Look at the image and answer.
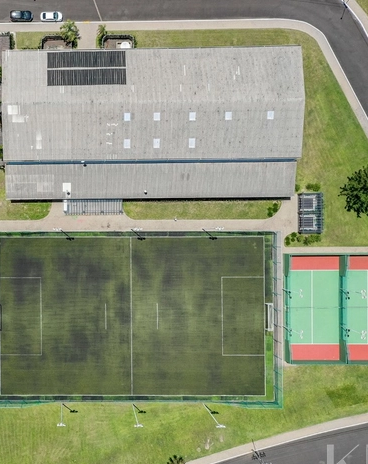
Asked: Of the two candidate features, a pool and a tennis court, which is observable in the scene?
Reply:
tennis court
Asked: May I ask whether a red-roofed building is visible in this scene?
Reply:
No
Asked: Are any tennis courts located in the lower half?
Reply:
Yes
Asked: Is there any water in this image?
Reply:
No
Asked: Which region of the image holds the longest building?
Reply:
top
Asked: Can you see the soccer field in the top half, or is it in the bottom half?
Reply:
bottom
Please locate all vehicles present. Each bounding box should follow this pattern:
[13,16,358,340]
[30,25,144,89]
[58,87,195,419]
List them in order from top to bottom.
[9,8,32,20]
[40,8,63,20]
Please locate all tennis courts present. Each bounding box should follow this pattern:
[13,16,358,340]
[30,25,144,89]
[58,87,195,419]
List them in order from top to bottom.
[284,254,348,363]
[340,254,368,363]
